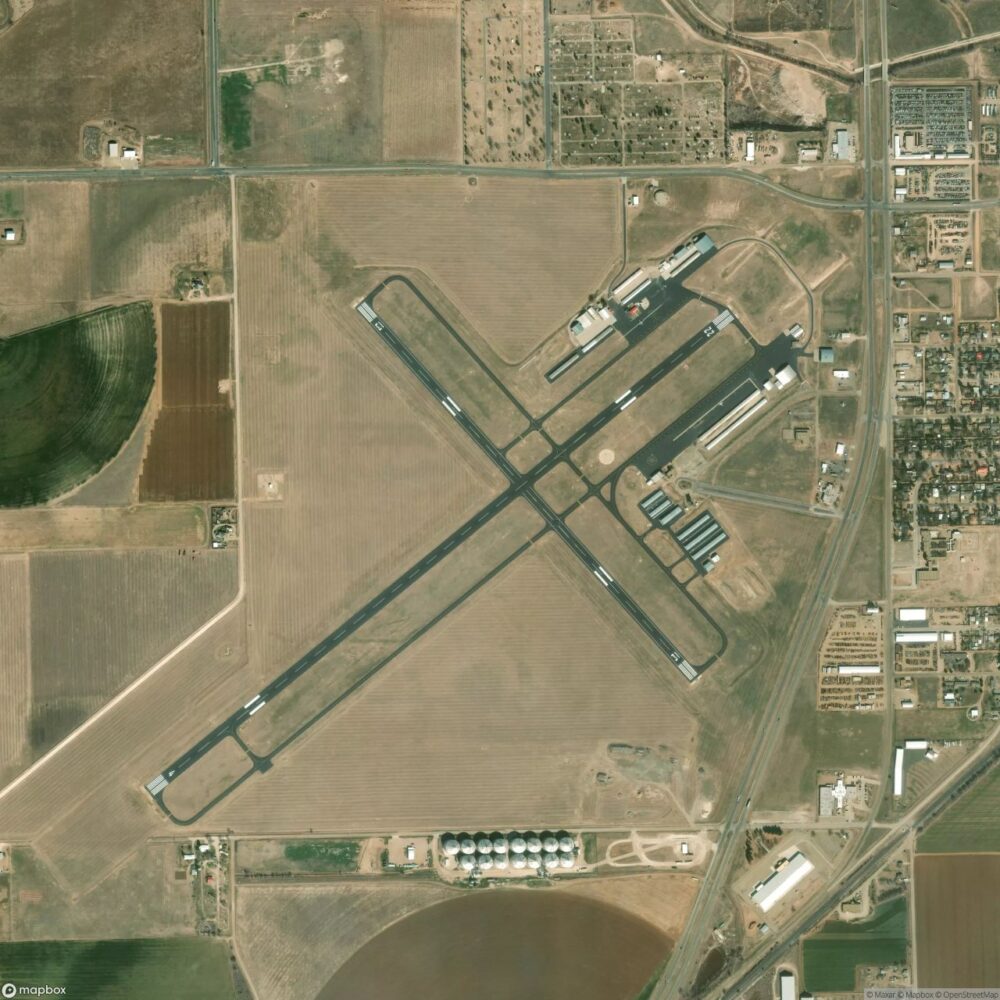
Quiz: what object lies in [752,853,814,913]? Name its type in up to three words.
building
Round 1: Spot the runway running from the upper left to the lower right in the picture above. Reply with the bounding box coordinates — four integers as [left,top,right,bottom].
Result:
[357,301,698,681]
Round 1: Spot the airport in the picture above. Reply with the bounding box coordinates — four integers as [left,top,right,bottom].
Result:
[146,243,819,823]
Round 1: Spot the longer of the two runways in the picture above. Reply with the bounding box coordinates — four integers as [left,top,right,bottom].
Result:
[146,310,734,796]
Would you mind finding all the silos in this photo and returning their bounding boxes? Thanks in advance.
[479,855,493,872]
[444,840,459,856]
[526,839,542,854]
[460,840,476,856]
[512,839,526,855]
[526,854,542,871]
[461,856,477,872]
[544,839,559,854]
[512,854,526,871]
[492,839,508,855]
[544,854,560,870]
[560,854,574,870]
[493,855,509,871]
[478,840,492,855]
[560,838,574,854]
